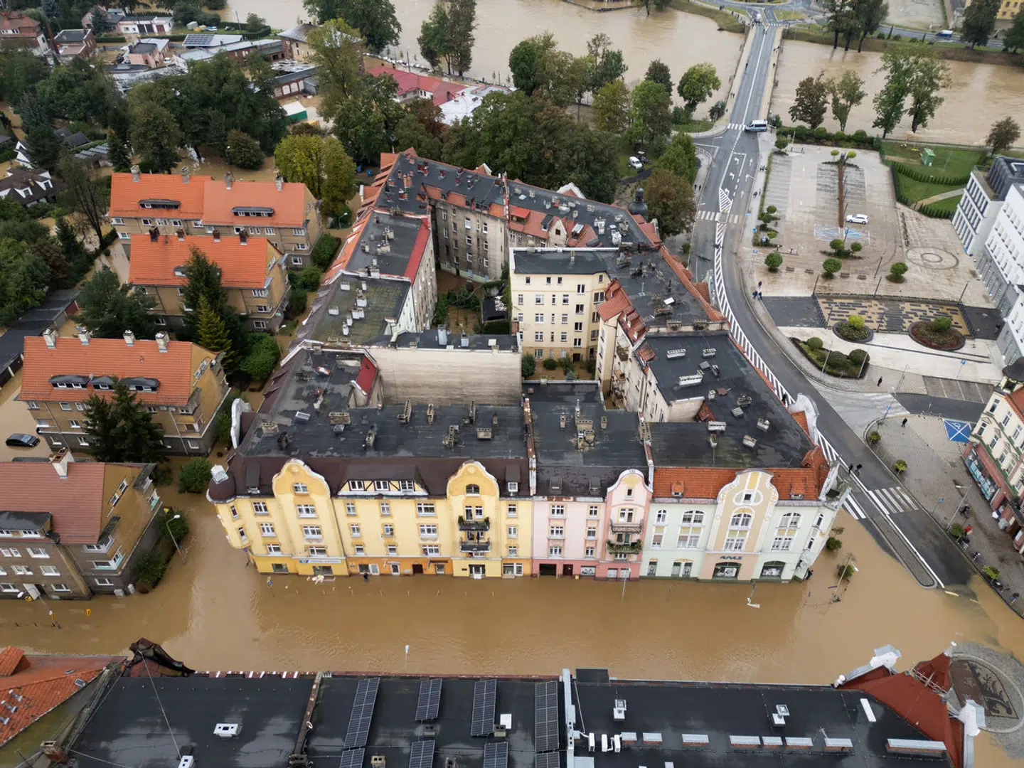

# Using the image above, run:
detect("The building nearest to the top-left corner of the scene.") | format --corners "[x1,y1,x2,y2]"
[0,8,47,55]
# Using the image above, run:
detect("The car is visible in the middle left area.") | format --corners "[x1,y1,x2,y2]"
[2,434,41,448]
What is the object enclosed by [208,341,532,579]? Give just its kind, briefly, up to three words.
house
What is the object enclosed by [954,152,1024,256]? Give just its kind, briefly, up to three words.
building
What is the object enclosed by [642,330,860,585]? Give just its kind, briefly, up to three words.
house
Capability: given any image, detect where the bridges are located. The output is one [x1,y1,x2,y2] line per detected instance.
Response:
[723,24,786,129]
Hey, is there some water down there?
Yes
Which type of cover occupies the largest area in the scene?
buildings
